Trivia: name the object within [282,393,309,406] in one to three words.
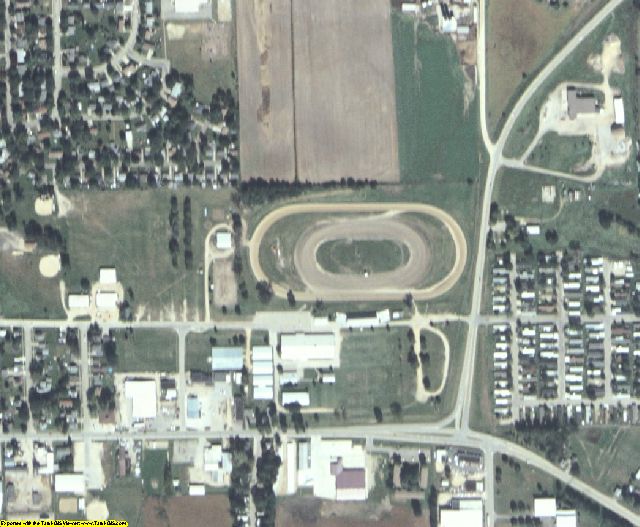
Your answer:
building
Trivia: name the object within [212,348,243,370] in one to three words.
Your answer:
building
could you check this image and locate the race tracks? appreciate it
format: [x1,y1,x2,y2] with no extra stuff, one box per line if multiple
[249,203,467,301]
